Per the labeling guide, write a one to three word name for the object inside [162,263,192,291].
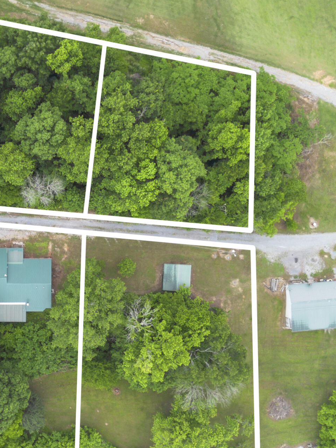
shed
